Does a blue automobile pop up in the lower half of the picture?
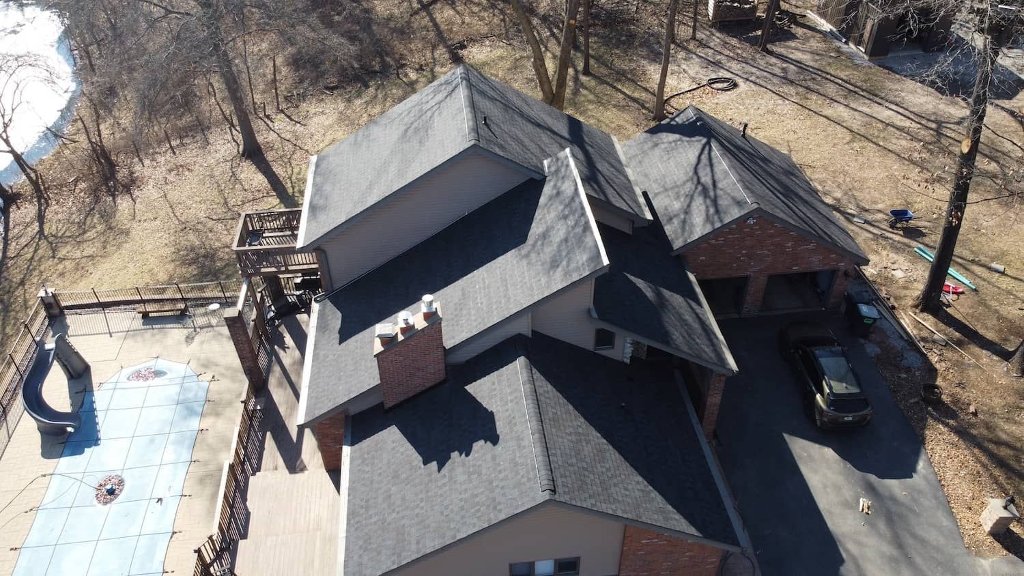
No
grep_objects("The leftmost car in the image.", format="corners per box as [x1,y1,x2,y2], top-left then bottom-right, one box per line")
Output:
[779,330,875,428]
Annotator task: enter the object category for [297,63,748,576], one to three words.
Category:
house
